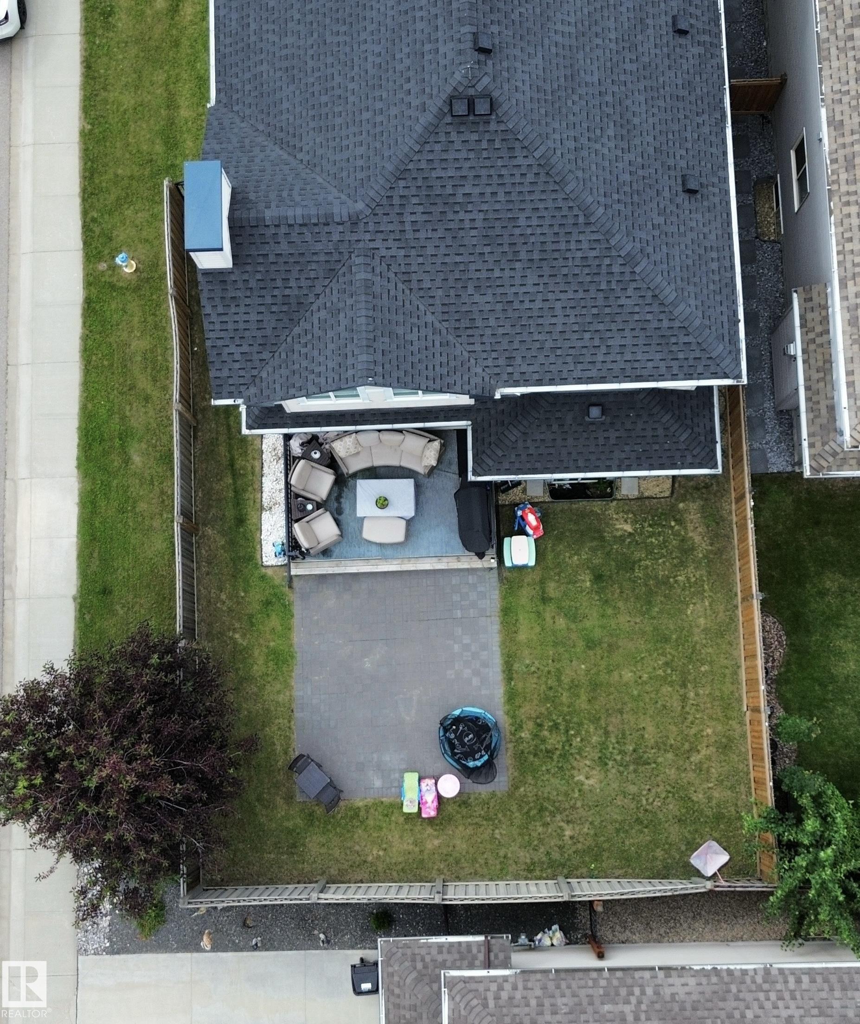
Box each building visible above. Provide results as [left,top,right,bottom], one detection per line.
[764,0,860,478]
[184,0,748,480]
[378,928,860,1024]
